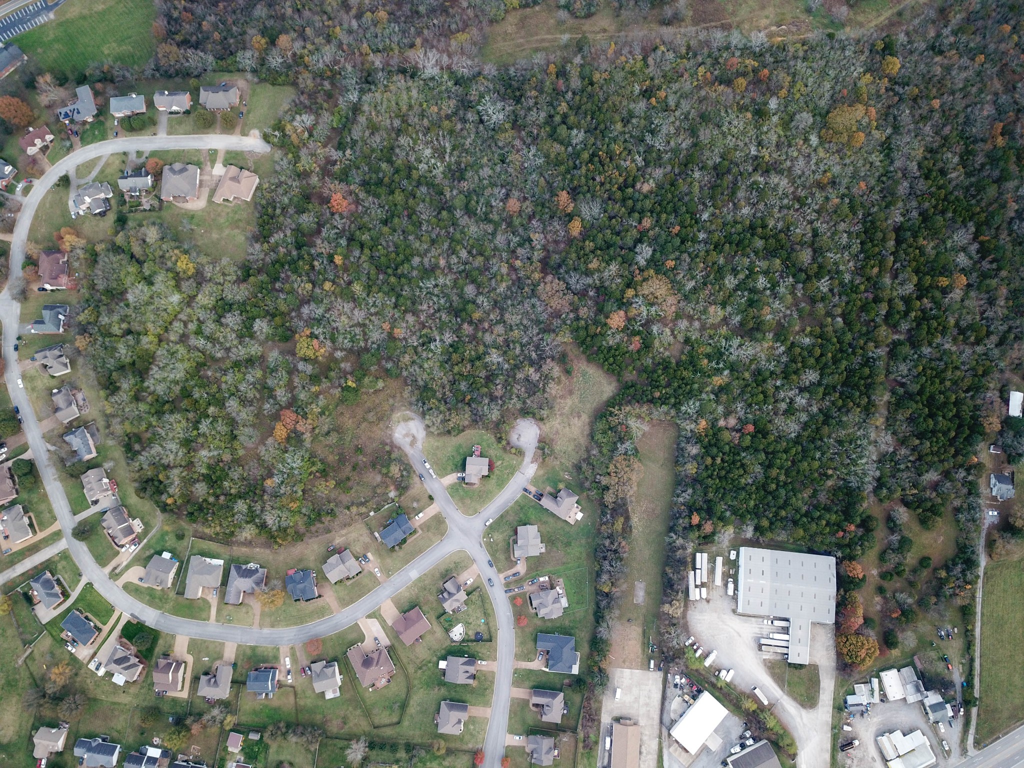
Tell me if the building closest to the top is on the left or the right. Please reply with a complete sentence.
The building closest to the top is on the left side of the image.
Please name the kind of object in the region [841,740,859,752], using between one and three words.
vehicle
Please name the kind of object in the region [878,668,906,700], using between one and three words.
building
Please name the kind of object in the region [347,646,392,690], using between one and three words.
house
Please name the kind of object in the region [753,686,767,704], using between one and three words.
vehicle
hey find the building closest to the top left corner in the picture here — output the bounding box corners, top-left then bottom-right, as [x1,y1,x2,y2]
[0,41,28,79]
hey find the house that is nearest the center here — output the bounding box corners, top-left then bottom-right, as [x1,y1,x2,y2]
[465,445,488,483]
